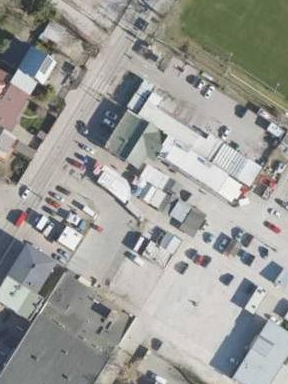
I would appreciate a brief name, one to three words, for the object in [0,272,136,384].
building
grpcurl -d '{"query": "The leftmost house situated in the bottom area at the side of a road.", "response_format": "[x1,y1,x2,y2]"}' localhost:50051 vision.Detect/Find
[0,226,55,315]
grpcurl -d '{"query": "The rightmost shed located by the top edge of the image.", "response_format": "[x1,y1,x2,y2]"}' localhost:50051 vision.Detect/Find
[40,19,67,44]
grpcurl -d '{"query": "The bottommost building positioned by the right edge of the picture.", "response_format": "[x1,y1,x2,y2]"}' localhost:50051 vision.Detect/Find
[232,319,288,384]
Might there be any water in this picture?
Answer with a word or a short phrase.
No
